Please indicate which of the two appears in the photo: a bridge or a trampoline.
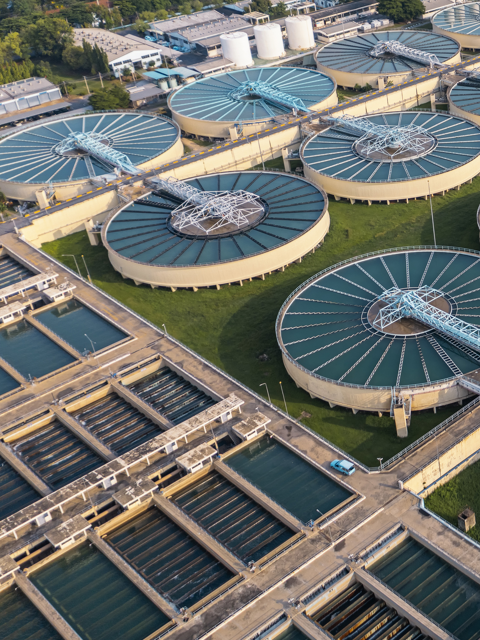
bridge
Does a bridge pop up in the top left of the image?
Yes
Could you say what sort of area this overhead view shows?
industrial area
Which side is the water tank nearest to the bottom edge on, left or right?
right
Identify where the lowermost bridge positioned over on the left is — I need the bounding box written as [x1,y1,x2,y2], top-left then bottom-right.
[150,177,214,212]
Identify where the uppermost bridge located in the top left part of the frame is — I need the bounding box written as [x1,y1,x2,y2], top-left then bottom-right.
[76,132,140,173]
